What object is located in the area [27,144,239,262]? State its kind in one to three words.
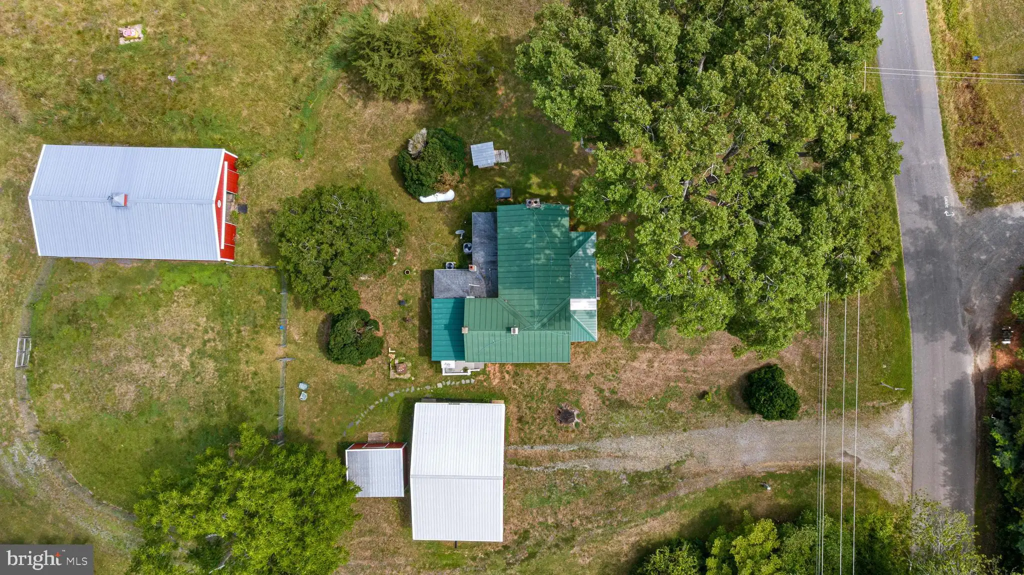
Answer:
barn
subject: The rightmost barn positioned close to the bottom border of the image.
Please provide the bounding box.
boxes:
[409,398,506,550]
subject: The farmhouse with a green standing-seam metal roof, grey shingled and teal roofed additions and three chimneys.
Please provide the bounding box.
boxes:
[431,199,600,376]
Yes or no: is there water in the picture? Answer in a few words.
No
